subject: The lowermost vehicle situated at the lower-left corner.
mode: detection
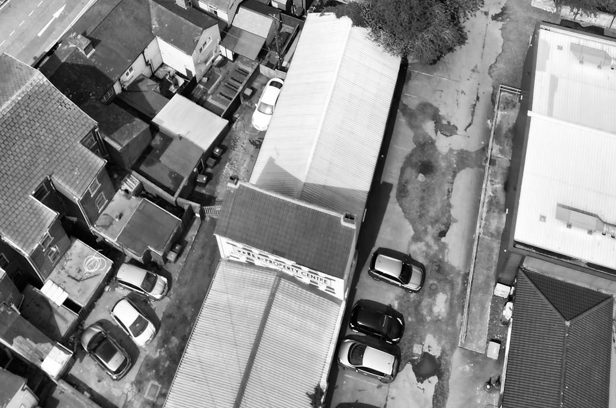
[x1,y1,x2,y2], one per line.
[76,324,137,386]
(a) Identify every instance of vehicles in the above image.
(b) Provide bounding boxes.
[348,304,405,342]
[249,78,284,132]
[107,294,159,349]
[336,341,399,382]
[370,258,424,292]
[76,324,137,386]
[113,261,172,303]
